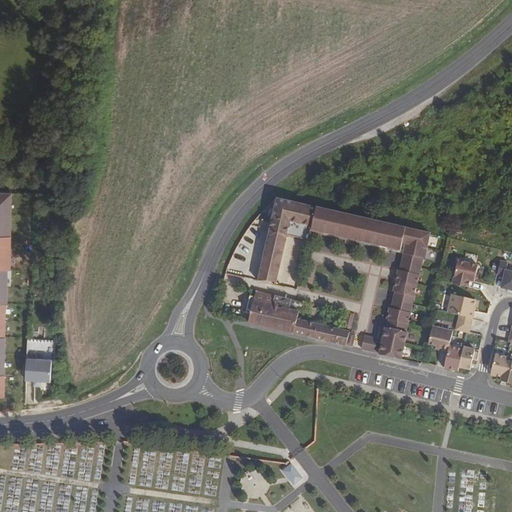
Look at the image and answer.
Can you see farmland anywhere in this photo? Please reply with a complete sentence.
Yes, farmland shows up in the scene.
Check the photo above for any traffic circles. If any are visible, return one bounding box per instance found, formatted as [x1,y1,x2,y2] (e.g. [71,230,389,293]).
[135,328,221,409]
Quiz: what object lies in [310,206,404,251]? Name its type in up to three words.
building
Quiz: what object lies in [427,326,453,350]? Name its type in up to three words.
house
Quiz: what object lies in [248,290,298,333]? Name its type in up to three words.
house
